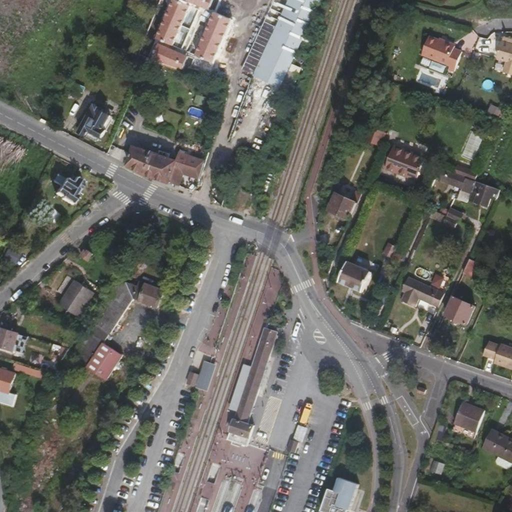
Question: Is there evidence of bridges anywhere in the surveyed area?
No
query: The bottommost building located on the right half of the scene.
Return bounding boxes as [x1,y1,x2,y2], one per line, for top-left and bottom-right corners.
[318,478,368,512]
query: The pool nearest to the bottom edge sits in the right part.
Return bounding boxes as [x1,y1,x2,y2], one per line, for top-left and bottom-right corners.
[414,268,431,280]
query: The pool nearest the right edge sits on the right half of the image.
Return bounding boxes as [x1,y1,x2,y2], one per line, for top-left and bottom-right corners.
[480,78,496,92]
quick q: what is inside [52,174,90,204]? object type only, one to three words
house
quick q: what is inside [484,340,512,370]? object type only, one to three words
house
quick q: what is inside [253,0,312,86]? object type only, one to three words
building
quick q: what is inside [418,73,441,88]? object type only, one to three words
swimming pool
